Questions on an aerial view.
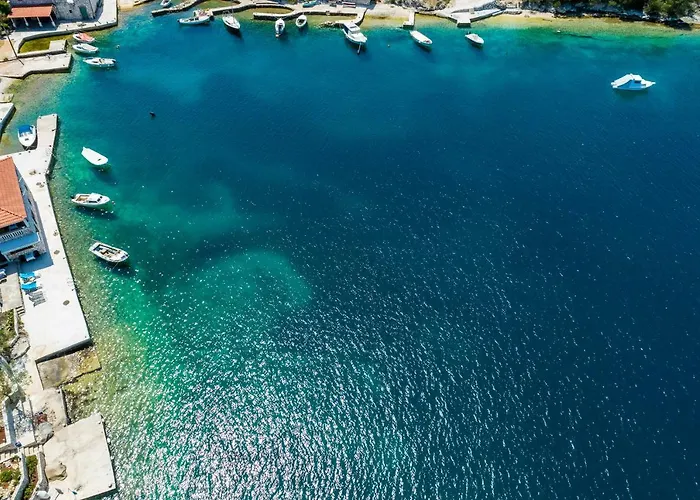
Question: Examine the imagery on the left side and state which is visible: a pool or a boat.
boat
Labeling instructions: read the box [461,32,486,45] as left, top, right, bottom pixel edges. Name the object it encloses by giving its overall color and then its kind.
white boat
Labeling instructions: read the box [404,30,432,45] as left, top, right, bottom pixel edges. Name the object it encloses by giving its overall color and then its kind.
white boat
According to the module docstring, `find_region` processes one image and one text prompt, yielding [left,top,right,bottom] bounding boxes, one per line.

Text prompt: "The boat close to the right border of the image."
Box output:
[607,73,667,91]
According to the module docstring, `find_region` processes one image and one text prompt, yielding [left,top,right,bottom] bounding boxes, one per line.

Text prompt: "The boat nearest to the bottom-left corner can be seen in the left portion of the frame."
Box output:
[88,232,129,270]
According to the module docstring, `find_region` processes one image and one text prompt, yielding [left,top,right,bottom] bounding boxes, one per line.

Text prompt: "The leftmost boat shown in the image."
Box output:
[16,121,35,146]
